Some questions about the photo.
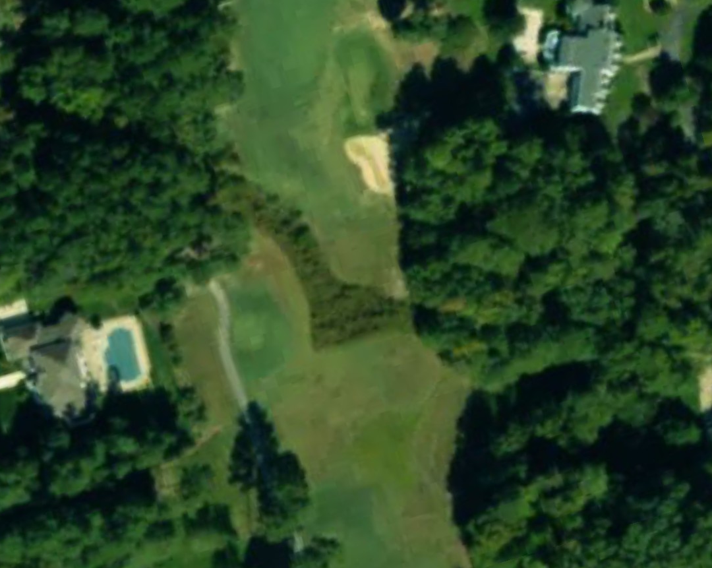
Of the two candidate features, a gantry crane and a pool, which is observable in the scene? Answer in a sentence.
This aerial view contains a pool.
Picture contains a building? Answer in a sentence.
Yes, there is a building in the image.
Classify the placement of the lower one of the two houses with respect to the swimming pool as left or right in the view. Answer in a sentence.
Compared with the swimming pool, the lower one of the two houses is located further to the left.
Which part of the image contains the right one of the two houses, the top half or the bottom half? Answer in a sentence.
You can find the right one of the two houses in the top half.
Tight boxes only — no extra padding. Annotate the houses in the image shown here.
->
[544,0,620,113]
[0,309,95,419]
